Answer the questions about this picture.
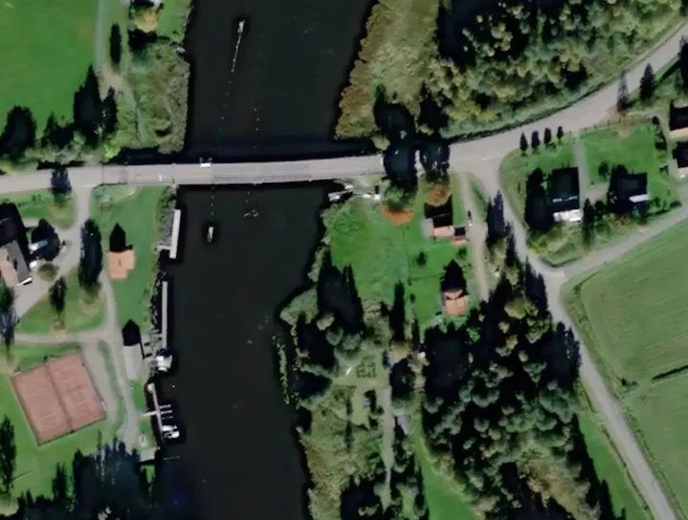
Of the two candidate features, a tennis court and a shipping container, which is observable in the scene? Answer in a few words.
tennis court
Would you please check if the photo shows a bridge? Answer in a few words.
Yes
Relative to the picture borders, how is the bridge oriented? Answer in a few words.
horizontally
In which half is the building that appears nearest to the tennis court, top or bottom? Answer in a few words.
bottom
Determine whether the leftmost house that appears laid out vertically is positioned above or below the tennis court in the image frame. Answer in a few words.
above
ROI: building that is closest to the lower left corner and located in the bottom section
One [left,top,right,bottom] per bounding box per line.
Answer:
[118,340,146,381]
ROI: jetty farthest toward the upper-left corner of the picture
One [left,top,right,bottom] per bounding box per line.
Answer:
[164,210,180,258]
